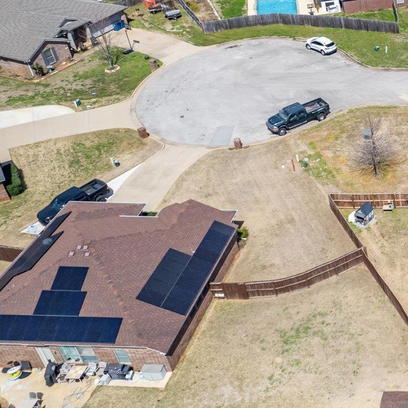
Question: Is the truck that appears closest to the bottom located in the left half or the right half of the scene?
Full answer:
The truck that appears closest to the bottom sits on the left side.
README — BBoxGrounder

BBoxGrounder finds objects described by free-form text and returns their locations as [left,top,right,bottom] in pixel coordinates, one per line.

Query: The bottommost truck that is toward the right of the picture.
[269,102,326,133]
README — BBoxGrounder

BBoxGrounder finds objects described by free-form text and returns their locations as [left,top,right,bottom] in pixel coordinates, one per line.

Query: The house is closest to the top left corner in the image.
[0,0,130,80]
